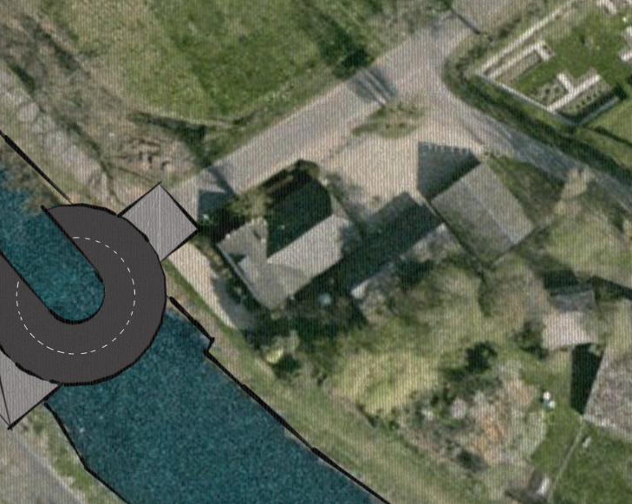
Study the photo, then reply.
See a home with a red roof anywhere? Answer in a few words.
No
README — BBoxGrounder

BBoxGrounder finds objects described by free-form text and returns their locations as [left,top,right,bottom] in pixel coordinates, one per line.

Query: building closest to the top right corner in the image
[432,162,535,265]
